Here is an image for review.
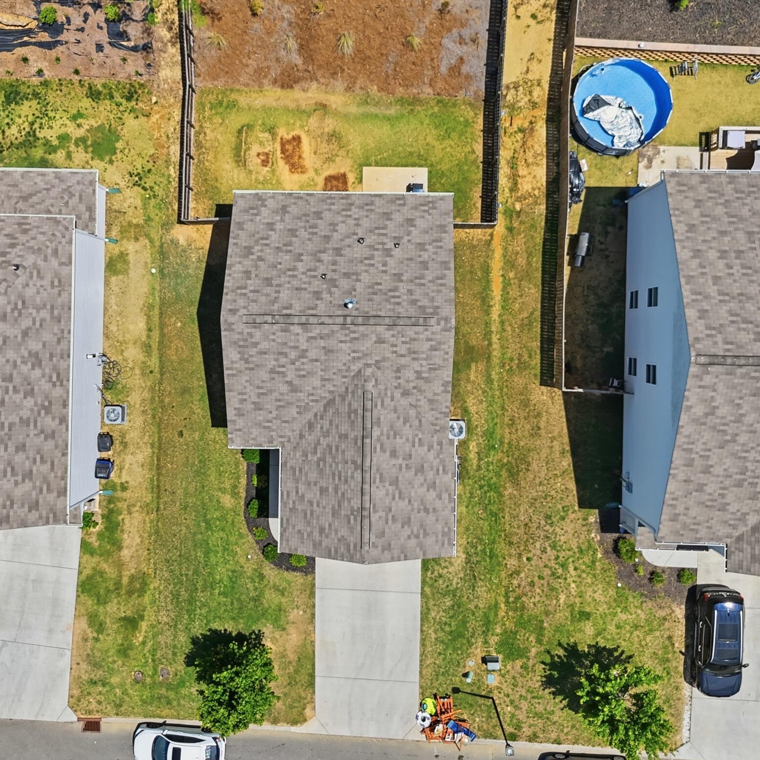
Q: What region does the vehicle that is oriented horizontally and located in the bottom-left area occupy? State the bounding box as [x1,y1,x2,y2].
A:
[133,721,227,760]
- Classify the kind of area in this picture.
residential area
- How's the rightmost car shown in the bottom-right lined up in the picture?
vertically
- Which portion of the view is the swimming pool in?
top right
